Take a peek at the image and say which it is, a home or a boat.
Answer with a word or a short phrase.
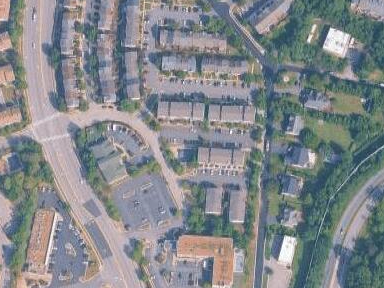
home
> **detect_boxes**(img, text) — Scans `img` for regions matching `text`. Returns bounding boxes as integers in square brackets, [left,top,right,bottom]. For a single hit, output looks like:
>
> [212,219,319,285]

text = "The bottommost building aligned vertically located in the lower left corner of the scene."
[26,210,57,272]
